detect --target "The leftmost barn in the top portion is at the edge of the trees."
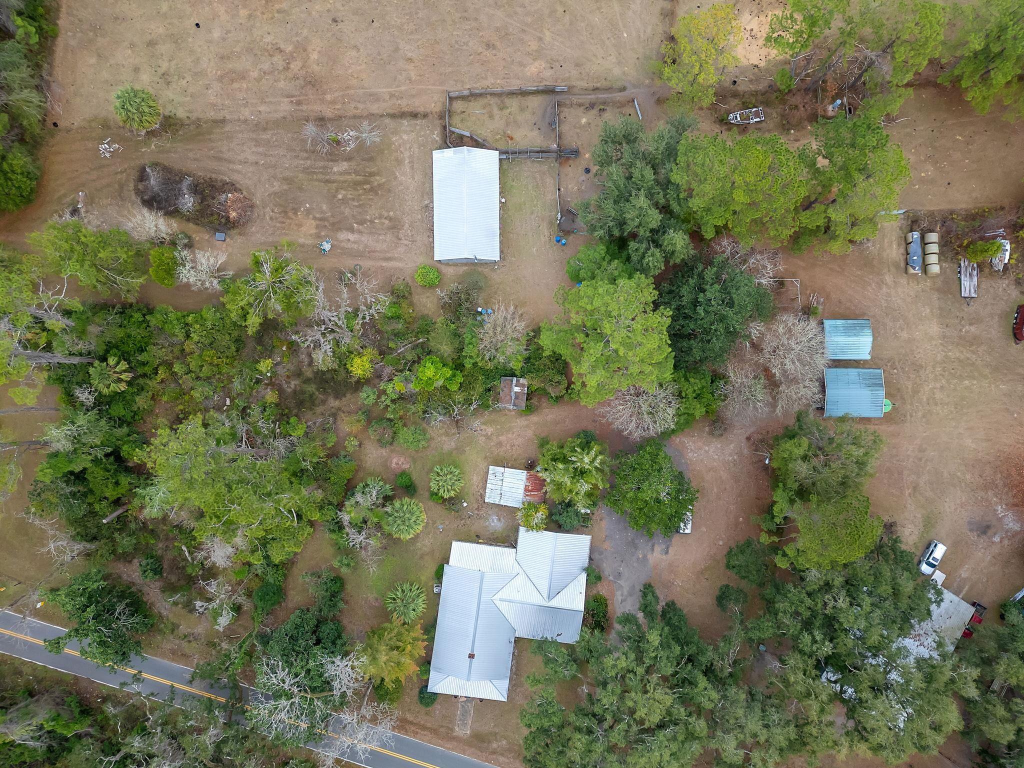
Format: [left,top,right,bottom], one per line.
[432,146,500,263]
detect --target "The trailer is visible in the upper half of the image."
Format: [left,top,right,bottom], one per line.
[955,262,980,306]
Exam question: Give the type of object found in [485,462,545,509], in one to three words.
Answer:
shed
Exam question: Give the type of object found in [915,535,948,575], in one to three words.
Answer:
car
